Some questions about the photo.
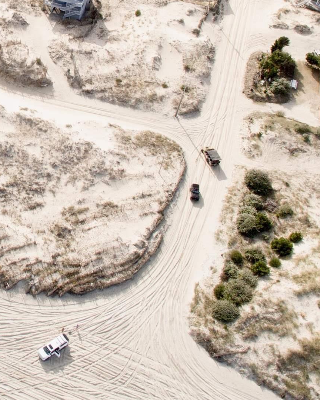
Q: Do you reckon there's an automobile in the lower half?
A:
Yes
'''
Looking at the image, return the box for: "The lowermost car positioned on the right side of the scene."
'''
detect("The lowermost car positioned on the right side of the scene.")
[190,179,202,200]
